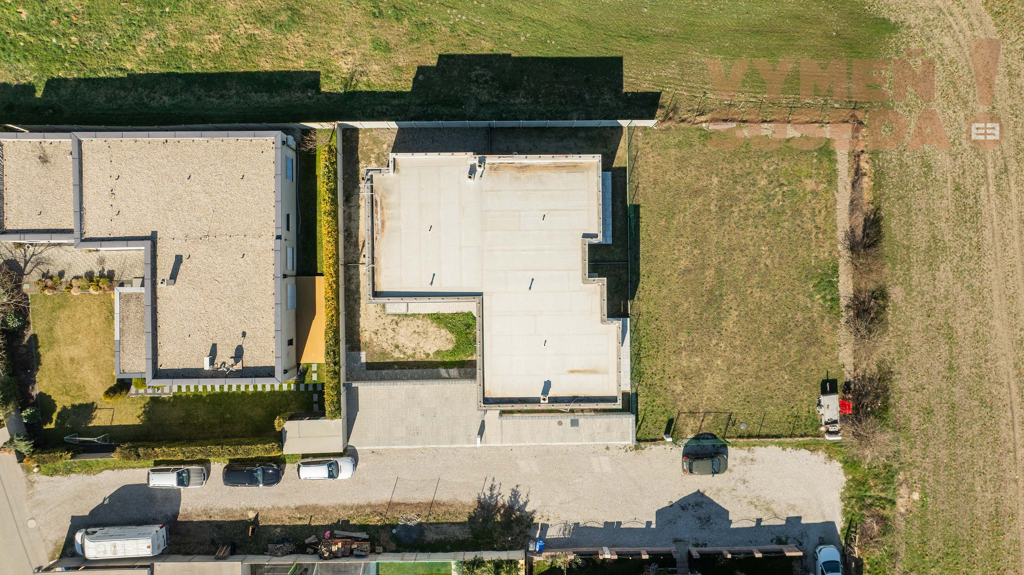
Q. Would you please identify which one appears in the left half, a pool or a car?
car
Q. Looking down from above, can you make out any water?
No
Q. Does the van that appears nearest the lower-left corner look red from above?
No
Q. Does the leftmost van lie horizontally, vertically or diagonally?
horizontally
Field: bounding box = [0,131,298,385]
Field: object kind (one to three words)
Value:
house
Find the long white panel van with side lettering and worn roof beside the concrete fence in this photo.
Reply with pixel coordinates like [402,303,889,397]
[77,523,169,563]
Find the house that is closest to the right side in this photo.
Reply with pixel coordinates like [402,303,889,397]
[364,152,621,410]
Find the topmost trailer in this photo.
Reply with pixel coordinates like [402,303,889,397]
[814,380,841,426]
